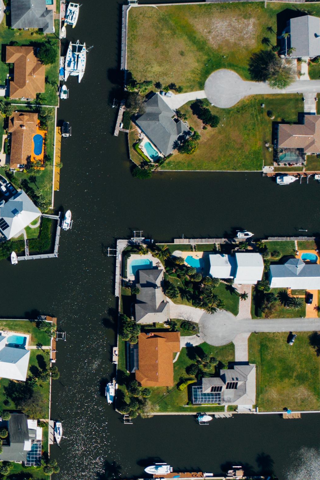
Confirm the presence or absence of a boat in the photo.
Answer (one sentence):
Yes, a boat appears in the view.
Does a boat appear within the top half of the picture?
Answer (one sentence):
Yes, you'll find a boat within the top half of the picture.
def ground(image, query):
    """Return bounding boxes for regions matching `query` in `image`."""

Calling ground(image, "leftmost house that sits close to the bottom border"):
[0,413,43,462]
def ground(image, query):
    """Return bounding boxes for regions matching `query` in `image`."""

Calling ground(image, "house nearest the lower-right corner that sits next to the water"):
[199,365,257,405]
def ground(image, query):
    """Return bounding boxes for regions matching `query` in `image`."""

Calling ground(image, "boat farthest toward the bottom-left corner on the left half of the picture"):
[53,421,69,444]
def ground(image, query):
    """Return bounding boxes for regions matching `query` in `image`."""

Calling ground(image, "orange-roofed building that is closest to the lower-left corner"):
[134,332,181,387]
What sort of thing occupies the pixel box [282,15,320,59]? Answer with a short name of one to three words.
house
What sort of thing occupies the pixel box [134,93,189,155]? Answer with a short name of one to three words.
house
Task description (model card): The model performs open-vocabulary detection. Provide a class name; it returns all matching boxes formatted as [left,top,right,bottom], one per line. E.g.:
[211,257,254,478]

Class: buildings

[282,15,320,59]
[199,365,257,405]
[7,112,38,168]
[134,269,172,323]
[0,190,44,241]
[206,253,266,284]
[0,413,43,462]
[134,93,189,155]
[134,332,181,387]
[0,336,30,379]
[267,259,320,289]
[5,46,45,99]
[275,115,320,154]
[9,0,53,35]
